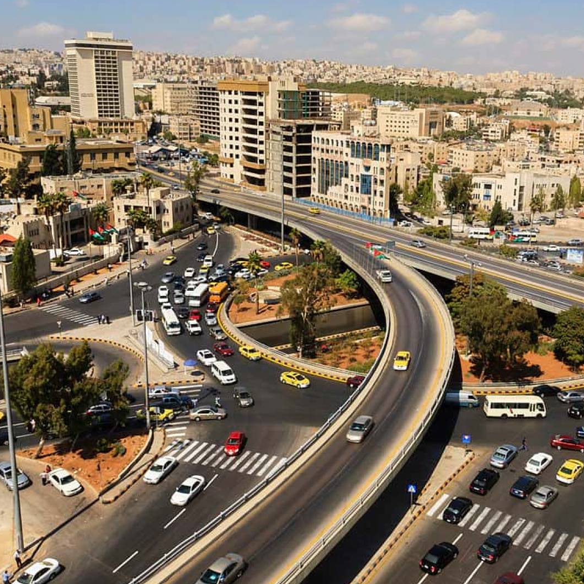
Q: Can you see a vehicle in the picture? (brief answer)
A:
Yes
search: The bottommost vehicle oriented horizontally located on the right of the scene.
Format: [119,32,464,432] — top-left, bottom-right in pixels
[490,566,529,584]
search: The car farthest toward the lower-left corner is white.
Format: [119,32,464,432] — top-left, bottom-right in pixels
[10,557,63,584]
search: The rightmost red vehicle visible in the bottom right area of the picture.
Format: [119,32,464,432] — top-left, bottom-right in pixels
[549,435,584,452]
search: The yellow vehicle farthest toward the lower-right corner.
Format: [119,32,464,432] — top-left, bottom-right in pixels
[556,462,584,486]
